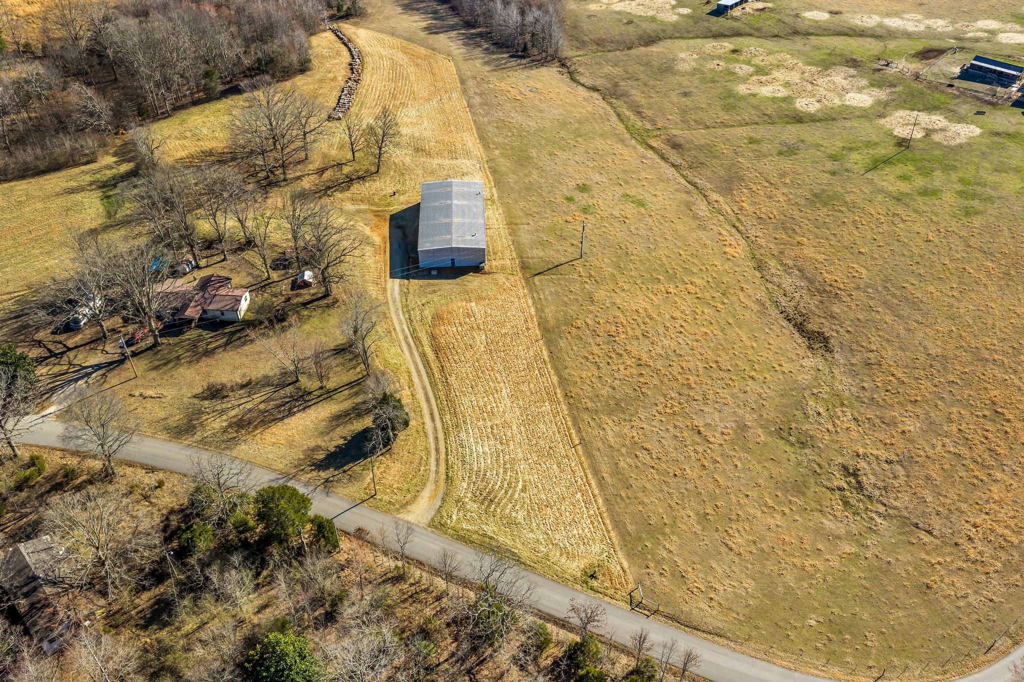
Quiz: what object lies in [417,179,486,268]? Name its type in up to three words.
barn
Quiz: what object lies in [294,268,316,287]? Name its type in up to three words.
shed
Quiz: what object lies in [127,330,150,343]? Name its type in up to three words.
vehicle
